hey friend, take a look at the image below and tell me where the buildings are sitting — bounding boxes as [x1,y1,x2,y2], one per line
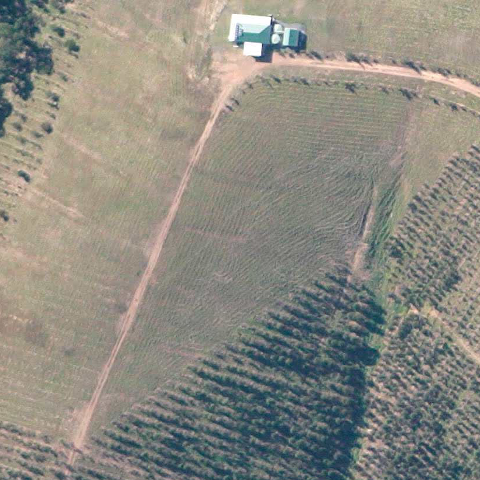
[283,28,298,46]
[229,14,272,44]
